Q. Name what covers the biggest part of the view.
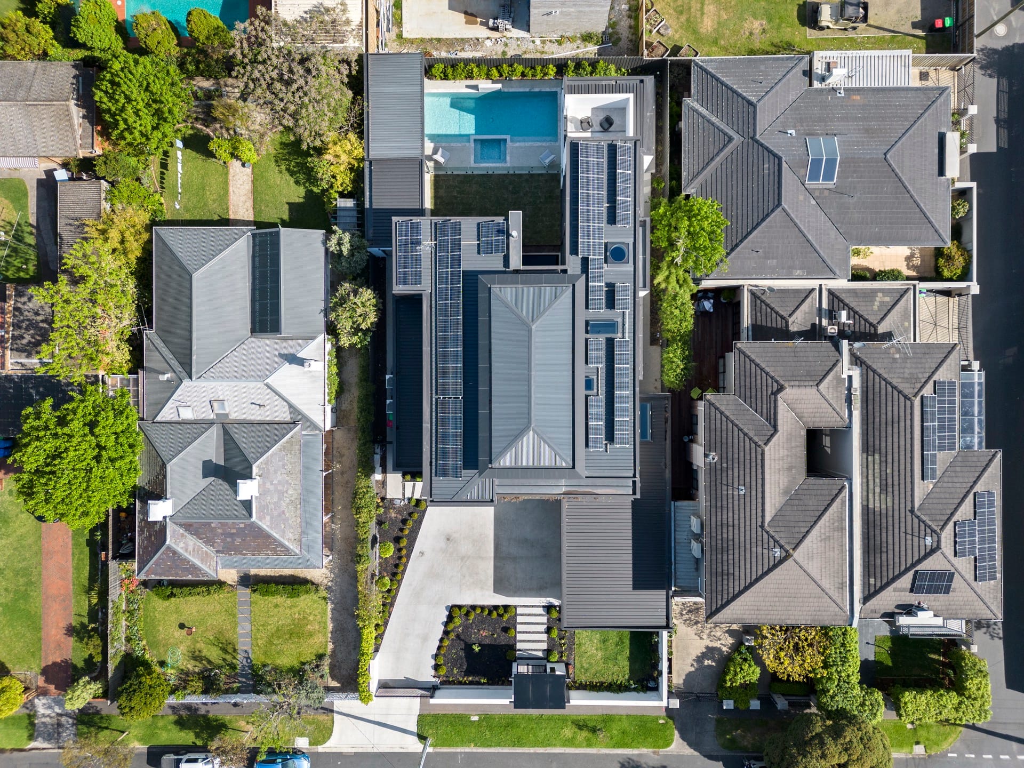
buildings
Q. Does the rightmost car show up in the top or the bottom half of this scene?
top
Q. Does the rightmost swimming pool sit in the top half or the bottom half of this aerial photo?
top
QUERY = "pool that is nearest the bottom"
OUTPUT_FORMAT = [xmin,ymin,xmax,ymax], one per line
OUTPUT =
[425,87,561,168]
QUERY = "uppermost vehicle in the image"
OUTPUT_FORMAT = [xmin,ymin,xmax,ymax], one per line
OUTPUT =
[813,0,866,33]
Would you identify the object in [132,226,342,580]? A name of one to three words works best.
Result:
house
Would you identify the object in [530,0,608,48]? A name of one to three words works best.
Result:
shed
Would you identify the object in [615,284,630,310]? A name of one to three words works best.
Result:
solar panel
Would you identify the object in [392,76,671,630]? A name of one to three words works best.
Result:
house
